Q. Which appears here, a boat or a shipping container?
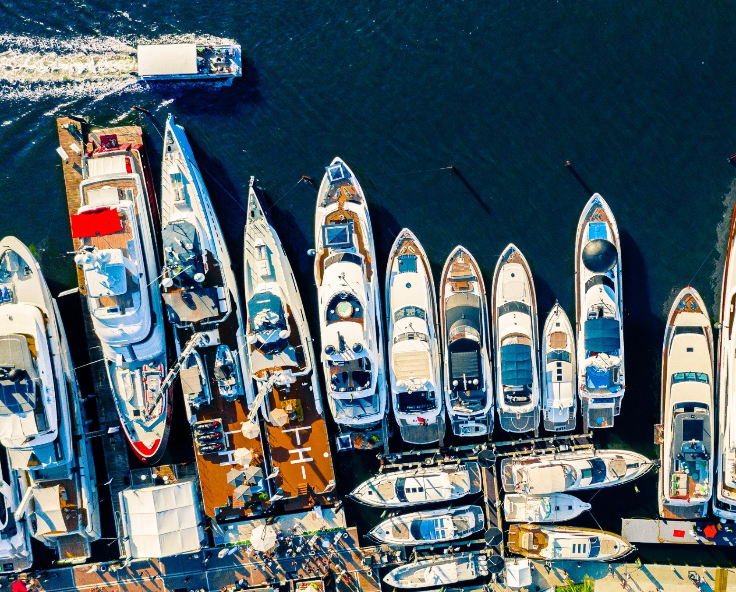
boat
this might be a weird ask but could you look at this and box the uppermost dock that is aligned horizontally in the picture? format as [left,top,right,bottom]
[378,432,595,471]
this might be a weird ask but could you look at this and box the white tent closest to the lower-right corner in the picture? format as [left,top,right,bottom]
[507,557,532,587]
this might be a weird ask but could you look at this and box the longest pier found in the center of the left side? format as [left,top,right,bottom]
[56,118,131,549]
